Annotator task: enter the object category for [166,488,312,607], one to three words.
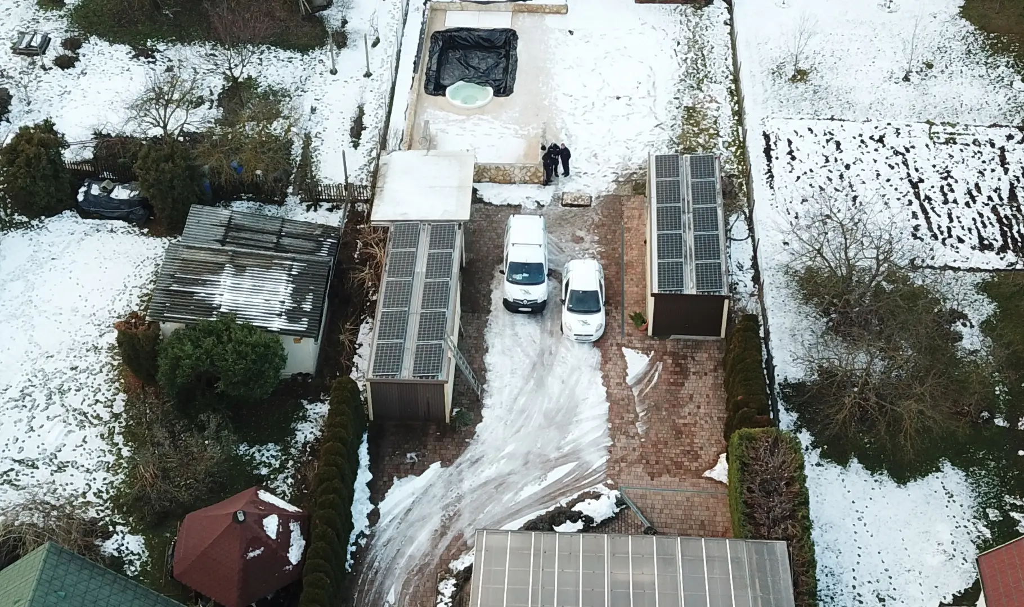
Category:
gazebo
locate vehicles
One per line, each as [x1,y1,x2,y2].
[500,215,553,310]
[558,262,610,340]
